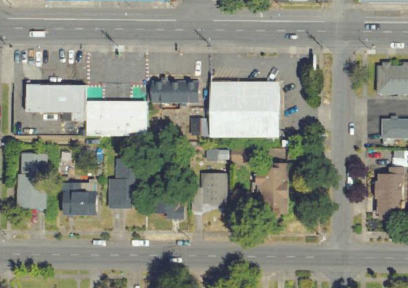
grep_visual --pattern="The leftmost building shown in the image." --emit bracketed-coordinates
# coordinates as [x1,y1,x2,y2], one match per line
[18,153,48,209]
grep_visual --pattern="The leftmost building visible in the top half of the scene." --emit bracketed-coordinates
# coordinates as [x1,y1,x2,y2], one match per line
[26,84,87,121]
